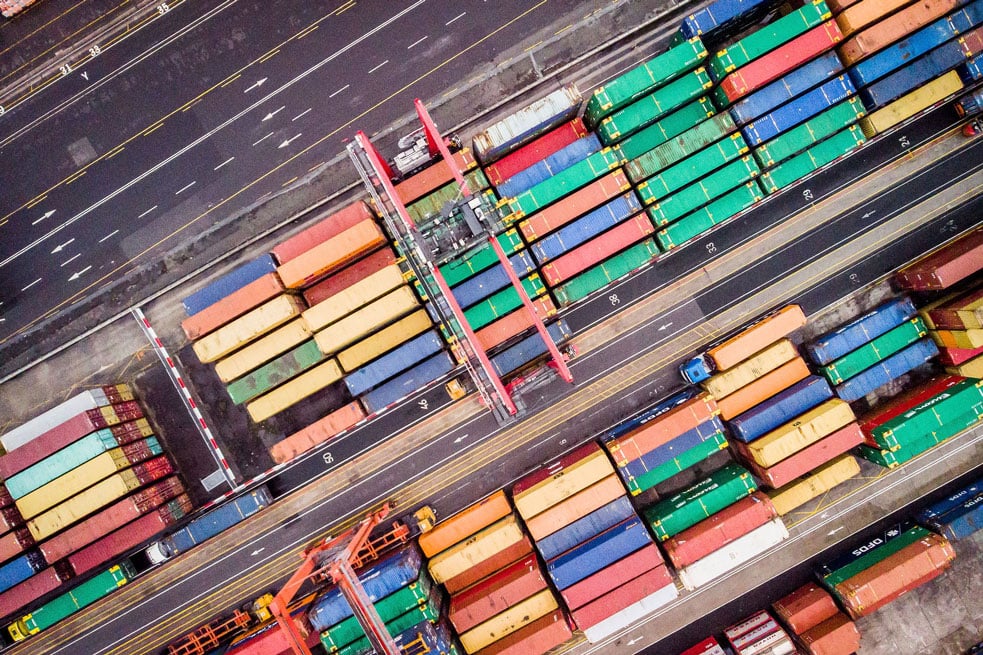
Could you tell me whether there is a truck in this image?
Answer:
Yes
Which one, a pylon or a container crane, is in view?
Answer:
container crane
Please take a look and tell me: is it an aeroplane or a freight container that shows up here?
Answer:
freight container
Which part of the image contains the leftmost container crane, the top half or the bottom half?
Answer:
bottom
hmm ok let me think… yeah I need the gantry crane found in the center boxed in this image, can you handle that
[338,95,587,427]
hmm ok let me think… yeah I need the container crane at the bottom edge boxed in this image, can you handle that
[270,494,447,655]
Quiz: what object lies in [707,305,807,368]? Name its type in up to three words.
shipping container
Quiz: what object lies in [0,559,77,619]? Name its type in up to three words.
shipping container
